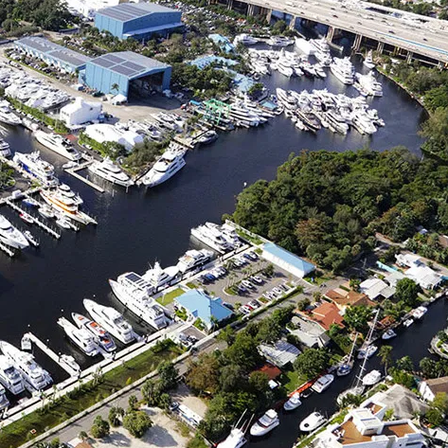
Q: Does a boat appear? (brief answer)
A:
Yes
